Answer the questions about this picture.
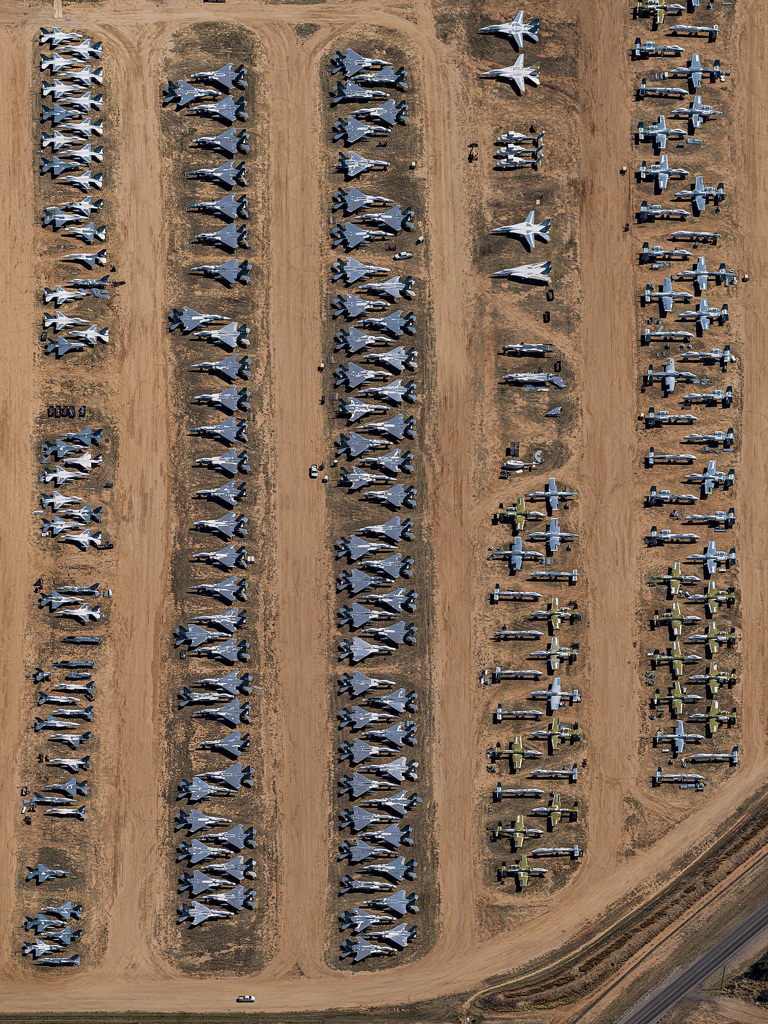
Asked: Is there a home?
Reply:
No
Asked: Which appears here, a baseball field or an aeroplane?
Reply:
aeroplane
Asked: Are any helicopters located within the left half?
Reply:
No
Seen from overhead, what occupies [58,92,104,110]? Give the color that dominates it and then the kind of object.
white airplane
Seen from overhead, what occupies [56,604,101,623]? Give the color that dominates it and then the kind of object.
white airplane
